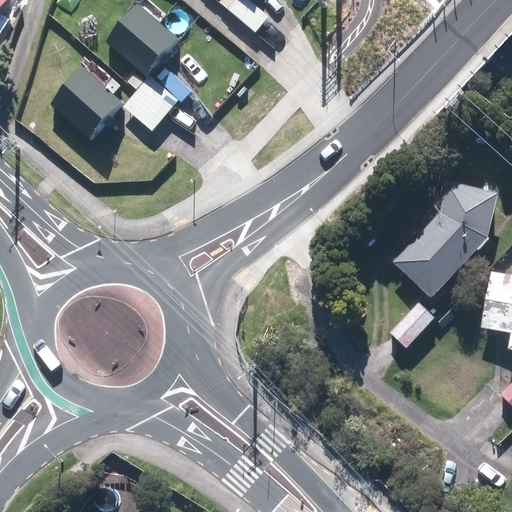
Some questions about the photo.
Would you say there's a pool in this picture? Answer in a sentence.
Yes, looking at the shot, I can spot a pool.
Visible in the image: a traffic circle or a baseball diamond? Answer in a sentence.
The one in the frame is a traffic circle.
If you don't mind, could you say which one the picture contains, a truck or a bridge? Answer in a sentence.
It is a truck that can be seen here.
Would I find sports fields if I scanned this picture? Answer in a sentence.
No, I can't see a single sports field in this photo.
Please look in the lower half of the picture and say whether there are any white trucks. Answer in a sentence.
Yes, a white truck appears in the lower half of the picture.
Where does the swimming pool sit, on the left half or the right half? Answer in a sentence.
You can find the swimming pool on the left side of the picture.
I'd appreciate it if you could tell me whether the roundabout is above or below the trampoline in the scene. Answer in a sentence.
The roundabout is above the trampoline.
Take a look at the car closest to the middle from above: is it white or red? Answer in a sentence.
From above, the car closest to the middle appears white.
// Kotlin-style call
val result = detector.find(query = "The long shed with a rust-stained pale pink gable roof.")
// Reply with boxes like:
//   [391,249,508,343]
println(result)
[391,303,434,347]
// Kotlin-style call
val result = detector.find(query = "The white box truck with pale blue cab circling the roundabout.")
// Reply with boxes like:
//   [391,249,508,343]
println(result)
[32,339,64,374]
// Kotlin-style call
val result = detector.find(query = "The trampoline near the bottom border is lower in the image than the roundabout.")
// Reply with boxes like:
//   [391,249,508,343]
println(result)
[94,488,119,512]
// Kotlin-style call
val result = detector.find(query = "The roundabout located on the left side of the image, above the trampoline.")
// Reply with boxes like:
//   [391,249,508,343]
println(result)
[54,284,166,388]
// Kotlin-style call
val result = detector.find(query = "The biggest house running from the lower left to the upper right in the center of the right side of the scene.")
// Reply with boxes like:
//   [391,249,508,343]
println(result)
[394,183,499,297]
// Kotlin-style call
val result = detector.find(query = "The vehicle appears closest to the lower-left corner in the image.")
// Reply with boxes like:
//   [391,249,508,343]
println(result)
[1,380,28,409]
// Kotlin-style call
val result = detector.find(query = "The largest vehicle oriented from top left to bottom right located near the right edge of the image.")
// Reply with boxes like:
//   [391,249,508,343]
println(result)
[476,462,508,488]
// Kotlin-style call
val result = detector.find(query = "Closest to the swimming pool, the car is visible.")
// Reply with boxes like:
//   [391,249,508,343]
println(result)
[180,54,207,84]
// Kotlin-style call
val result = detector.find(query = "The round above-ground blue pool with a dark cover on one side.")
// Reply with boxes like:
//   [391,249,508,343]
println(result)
[164,9,191,36]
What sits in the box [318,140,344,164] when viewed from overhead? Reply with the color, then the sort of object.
white car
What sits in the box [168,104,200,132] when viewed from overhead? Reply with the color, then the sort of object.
white truck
